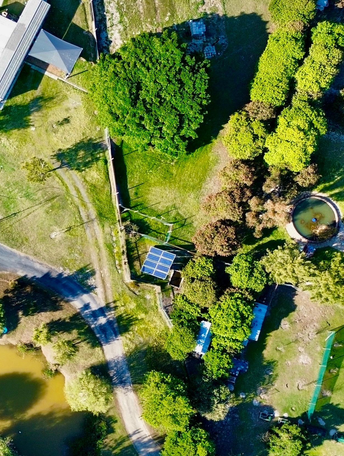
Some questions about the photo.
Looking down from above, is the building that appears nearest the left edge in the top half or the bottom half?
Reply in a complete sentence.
The building that appears nearest the left edge is in the top half of the image.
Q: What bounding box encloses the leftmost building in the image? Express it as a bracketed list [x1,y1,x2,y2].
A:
[0,0,51,100]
